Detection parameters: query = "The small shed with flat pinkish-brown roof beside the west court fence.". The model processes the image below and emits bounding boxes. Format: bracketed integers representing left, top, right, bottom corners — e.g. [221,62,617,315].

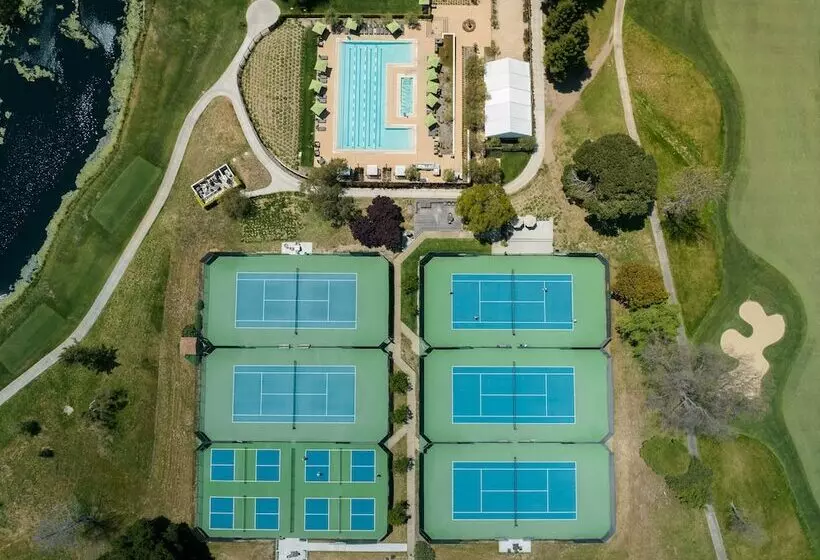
[180,338,200,355]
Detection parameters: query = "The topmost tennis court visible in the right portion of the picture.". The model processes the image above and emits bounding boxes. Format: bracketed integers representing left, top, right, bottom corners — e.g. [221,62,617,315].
[420,255,607,348]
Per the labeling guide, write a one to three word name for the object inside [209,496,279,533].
sports court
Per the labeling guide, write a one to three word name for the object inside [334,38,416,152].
swimming pool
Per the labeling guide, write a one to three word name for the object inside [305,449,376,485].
sports court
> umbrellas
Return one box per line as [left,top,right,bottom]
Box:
[425,66,439,79]
[424,92,439,107]
[424,113,438,127]
[312,22,327,35]
[426,79,440,92]
[524,215,537,229]
[344,18,358,31]
[428,55,440,67]
[316,60,328,71]
[312,102,325,116]
[309,79,322,92]
[386,19,400,34]
[510,216,524,229]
